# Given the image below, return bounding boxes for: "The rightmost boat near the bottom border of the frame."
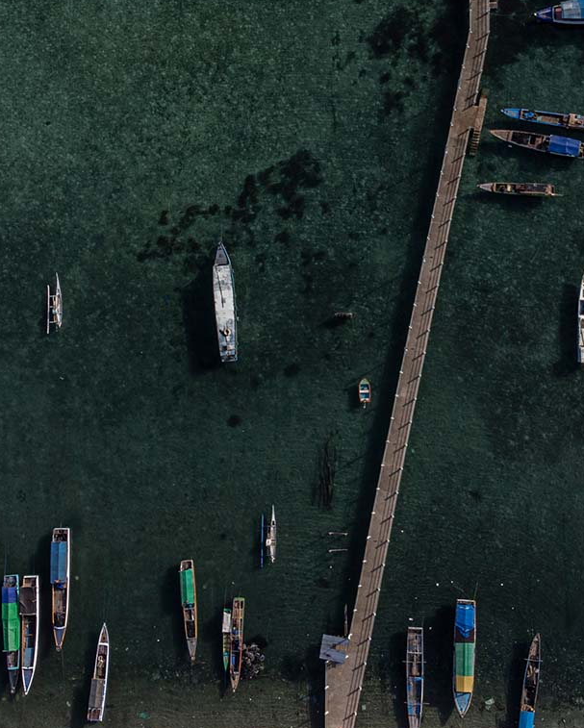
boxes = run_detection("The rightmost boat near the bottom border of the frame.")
[519,634,540,728]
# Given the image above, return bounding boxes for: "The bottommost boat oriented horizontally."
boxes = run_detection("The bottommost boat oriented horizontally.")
[477,183,564,195]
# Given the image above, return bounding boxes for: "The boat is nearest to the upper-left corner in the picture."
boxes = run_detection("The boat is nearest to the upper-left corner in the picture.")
[47,273,62,334]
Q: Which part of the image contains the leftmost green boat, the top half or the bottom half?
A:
bottom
